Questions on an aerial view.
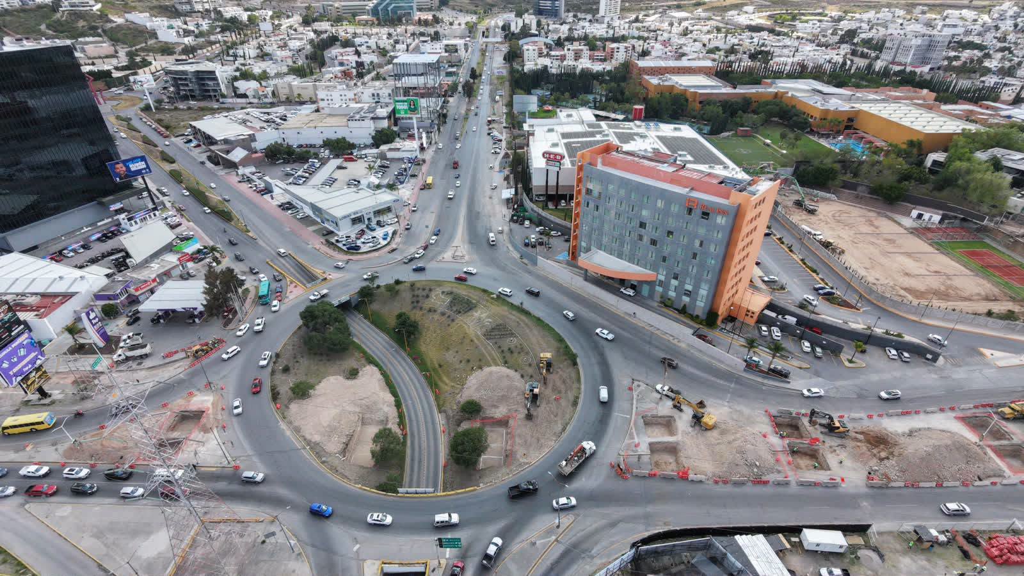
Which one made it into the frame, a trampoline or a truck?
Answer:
truck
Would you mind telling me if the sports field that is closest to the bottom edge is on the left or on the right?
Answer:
right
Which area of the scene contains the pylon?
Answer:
bottom left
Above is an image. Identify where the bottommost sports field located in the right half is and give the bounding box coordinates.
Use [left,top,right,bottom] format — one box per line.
[779,192,1024,324]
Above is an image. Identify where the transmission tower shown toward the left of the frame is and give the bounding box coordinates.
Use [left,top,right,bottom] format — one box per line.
[72,364,258,576]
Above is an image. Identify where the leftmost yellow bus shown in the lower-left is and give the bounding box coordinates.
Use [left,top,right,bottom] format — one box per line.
[0,414,57,435]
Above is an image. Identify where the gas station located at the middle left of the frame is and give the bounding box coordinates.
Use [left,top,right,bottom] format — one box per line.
[139,280,207,324]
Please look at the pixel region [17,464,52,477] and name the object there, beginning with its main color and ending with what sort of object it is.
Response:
white vehicle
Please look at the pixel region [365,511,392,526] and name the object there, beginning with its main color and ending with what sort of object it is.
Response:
white car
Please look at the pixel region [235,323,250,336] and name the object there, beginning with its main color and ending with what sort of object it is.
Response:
white vehicle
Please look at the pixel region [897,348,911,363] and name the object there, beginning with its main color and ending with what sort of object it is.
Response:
gray car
